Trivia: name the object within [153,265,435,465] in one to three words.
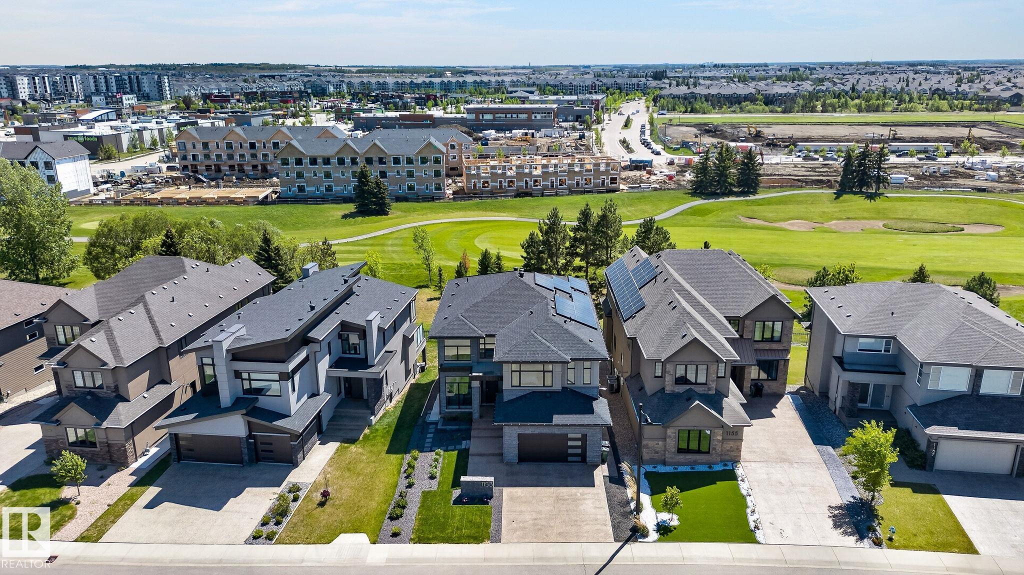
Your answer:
house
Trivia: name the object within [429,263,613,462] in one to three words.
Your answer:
house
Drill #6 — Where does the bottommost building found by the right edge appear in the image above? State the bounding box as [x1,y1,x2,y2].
[804,279,1024,471]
